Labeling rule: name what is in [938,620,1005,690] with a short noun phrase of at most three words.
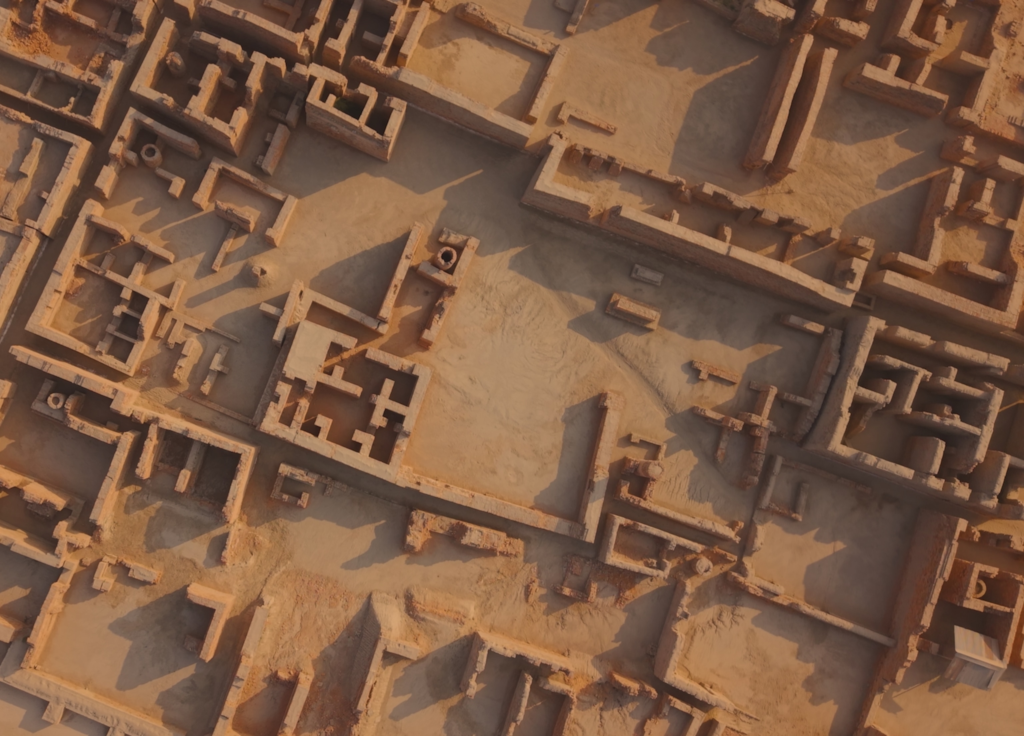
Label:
shed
